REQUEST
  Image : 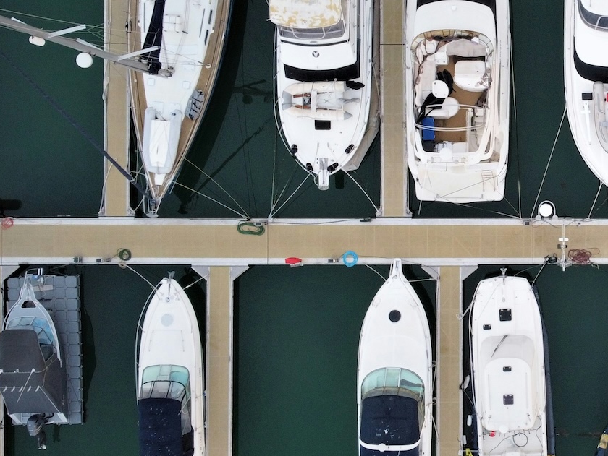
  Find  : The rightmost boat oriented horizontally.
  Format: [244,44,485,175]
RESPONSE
[278,80,368,120]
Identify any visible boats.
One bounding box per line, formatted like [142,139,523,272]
[403,0,510,214]
[0,269,79,450]
[266,0,374,192]
[357,259,432,456]
[0,0,234,218]
[135,268,206,456]
[278,80,368,120]
[141,111,185,176]
[564,0,608,186]
[469,266,547,456]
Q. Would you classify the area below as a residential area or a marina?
marina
